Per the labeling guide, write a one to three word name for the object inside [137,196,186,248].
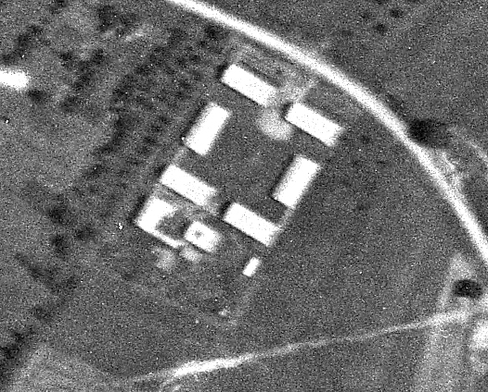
building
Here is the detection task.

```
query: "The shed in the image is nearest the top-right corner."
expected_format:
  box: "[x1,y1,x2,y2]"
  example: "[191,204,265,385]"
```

[286,100,341,145]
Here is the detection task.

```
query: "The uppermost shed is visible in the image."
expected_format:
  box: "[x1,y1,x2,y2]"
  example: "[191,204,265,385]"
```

[222,62,277,105]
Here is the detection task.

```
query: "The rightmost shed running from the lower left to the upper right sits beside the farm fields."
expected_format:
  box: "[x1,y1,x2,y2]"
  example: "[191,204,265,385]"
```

[273,154,318,209]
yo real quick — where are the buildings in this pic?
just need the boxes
[286,100,341,145]
[222,62,277,105]
[185,220,220,252]
[186,101,231,153]
[223,202,279,246]
[243,257,261,277]
[137,196,186,248]
[160,164,215,206]
[273,154,318,209]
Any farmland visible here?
Yes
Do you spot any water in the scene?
No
